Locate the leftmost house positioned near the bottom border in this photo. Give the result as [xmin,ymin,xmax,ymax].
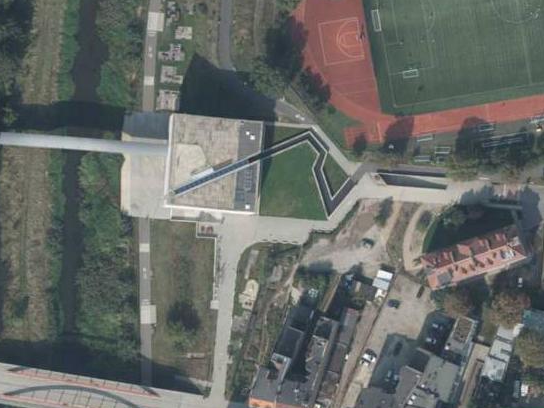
[246,363,283,408]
